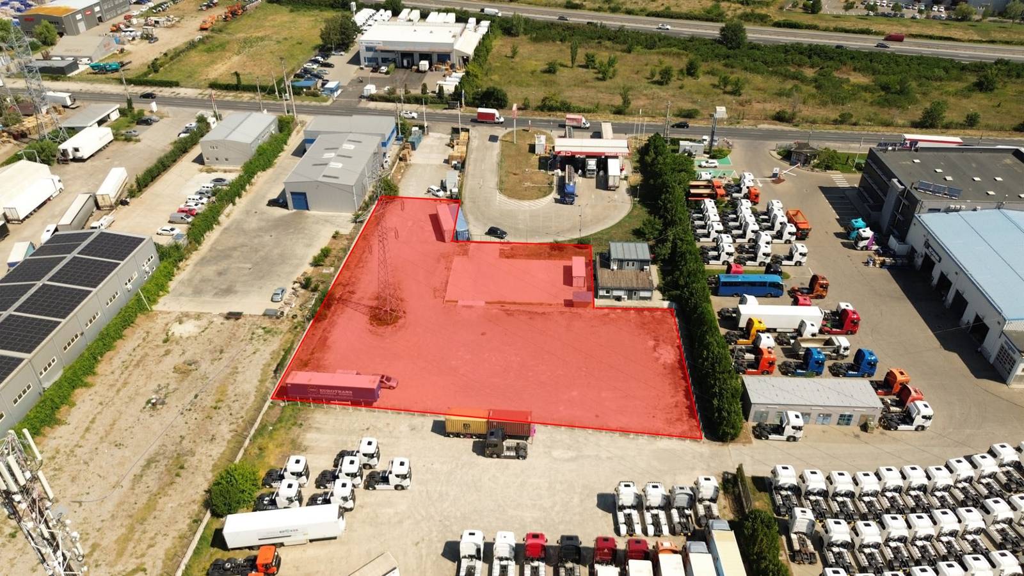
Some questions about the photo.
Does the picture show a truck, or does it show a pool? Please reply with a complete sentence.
This aerial view contains a truck.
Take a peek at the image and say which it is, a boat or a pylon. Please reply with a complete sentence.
The image shows a pylon.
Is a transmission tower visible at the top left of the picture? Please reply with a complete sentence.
Yes, at the top left of the picture there is a transmission tower.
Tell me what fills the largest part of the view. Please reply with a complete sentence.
For the most part, this view shows paved ground.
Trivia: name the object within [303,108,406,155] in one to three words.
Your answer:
building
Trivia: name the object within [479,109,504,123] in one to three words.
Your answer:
vehicle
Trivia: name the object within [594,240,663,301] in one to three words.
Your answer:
house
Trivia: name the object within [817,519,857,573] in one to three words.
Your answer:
truck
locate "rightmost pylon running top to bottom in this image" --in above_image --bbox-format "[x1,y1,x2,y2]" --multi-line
[355,147,412,329]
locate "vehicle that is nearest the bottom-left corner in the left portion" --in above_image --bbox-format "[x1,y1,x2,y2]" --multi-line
[225,543,285,576]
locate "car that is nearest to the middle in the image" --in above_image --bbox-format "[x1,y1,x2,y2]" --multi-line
[486,222,509,236]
